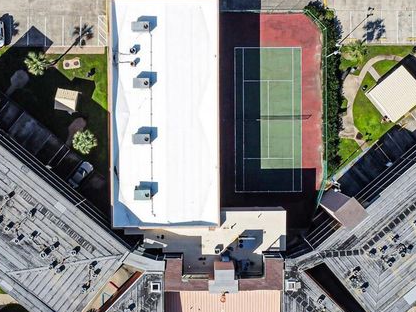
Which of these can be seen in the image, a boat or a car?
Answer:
car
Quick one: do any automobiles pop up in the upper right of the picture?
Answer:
No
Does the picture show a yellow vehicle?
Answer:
No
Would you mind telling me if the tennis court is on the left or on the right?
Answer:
right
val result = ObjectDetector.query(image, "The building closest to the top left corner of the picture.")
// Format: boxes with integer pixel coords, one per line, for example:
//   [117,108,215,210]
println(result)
[55,87,81,111]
